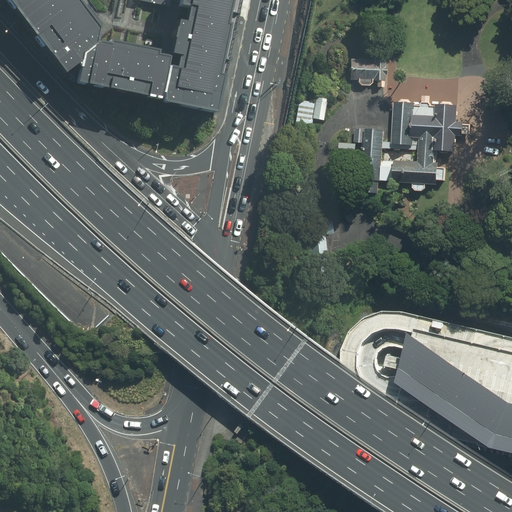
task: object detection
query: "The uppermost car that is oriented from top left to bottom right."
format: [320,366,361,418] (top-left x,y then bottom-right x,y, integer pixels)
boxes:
[34,80,50,95]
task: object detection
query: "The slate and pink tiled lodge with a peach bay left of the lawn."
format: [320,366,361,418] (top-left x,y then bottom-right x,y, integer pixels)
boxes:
[351,59,388,96]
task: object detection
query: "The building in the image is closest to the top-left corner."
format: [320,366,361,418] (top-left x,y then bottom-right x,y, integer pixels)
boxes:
[8,0,104,74]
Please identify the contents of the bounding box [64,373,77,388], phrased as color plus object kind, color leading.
white vehicle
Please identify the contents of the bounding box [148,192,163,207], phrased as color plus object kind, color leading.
white car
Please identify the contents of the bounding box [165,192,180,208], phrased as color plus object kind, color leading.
white car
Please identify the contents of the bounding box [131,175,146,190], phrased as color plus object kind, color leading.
gray car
